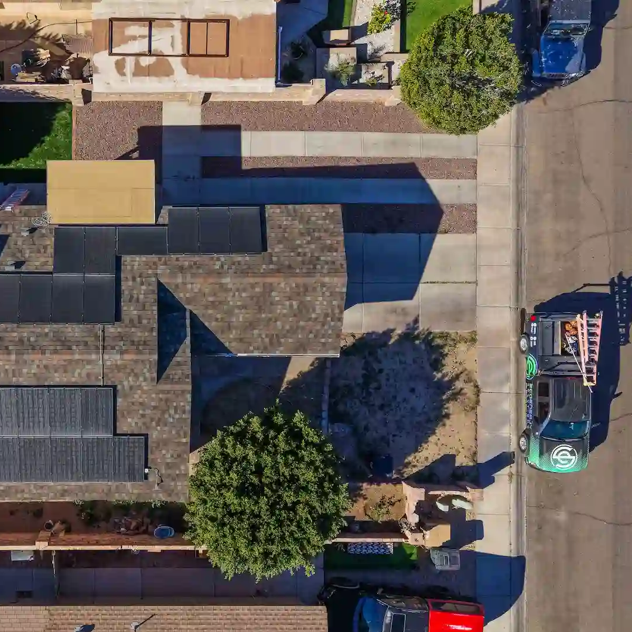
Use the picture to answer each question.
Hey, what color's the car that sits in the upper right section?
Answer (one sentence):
In this view, the car that sits in the upper right section is blue.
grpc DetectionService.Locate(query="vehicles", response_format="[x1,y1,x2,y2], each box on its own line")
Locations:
[314,582,484,632]
[521,0,591,82]
[517,312,596,471]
